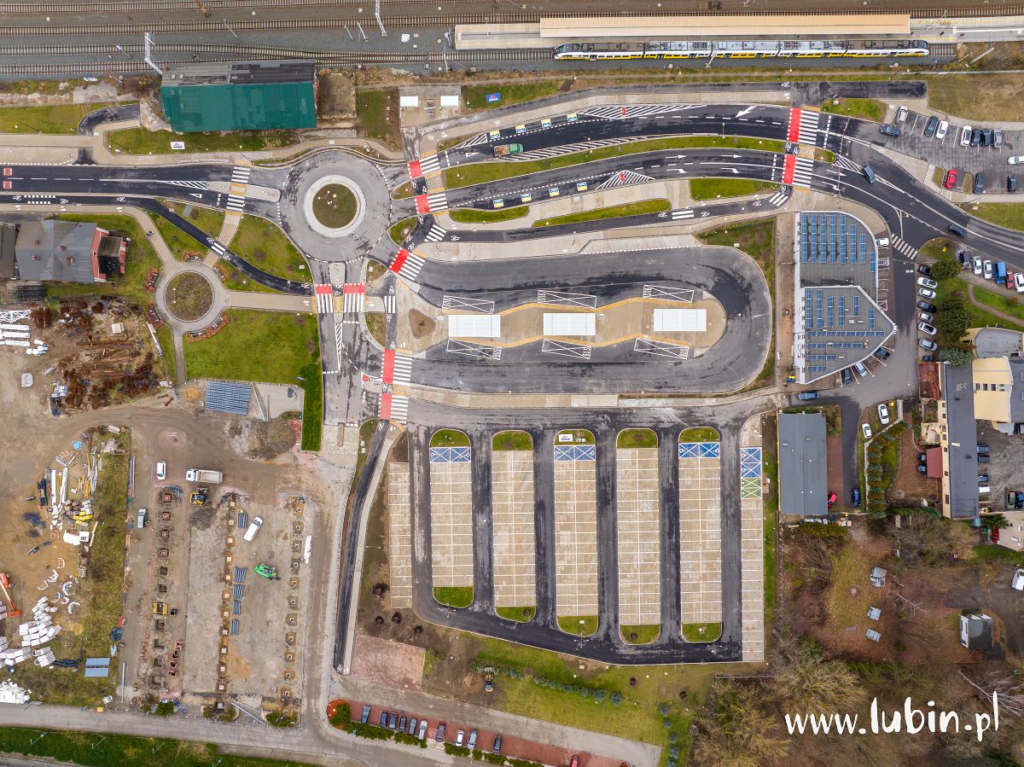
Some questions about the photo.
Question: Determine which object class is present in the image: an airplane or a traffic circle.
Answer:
traffic circle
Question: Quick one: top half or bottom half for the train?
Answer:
top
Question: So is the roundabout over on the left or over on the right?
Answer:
left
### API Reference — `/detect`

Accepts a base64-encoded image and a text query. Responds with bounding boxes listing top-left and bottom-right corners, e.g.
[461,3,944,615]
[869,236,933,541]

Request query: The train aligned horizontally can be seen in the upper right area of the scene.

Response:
[554,38,935,61]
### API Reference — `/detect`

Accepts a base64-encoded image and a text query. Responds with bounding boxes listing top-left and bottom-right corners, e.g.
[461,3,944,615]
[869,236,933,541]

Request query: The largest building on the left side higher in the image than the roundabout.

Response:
[161,60,321,134]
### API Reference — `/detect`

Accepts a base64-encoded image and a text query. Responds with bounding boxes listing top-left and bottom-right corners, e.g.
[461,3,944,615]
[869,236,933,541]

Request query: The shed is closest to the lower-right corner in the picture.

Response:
[960,607,993,648]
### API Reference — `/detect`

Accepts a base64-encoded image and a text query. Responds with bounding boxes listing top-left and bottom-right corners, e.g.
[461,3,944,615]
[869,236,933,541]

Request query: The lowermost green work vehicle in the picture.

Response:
[254,565,282,582]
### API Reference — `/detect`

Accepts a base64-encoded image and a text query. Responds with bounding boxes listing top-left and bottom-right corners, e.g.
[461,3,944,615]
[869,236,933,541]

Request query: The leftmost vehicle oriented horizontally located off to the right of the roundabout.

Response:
[492,140,524,157]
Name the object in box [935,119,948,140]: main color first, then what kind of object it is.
white vehicle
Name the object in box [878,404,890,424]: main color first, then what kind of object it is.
white vehicle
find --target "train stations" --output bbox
[455,14,1024,51]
